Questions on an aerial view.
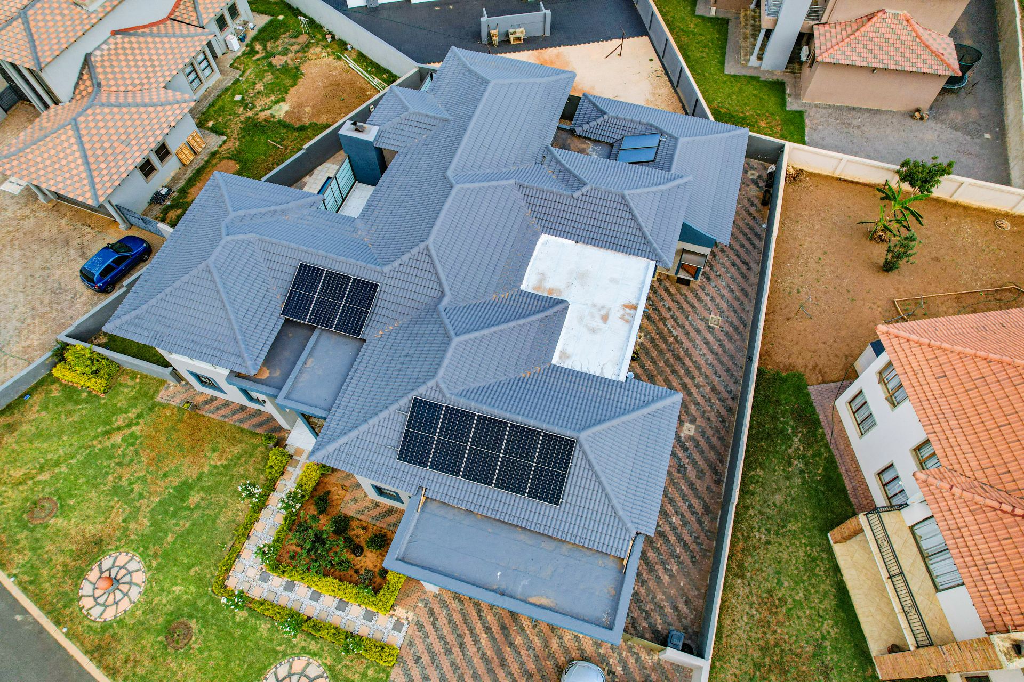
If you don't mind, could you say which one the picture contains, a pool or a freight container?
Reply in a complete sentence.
Of the two, only a pool appears.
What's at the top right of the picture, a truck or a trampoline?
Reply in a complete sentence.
The feature located at the top right of the picture is a trampoline.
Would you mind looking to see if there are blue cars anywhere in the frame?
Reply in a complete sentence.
Yes, there's a blue car down there.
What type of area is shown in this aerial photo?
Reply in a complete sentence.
This looks like a residential area.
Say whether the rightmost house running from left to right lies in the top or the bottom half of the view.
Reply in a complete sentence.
It is in the top half that the rightmost house running from left to right appears.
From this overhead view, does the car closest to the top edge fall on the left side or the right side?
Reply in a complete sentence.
The car closest to the top edge sits on the left side.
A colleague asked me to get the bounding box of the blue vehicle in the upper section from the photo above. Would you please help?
[73,235,151,297]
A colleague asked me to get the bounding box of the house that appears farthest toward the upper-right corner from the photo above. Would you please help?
[703,0,968,110]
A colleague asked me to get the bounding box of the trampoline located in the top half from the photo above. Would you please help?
[938,36,990,99]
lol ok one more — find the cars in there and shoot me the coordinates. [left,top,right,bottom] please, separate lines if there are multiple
[559,663,608,682]
[73,235,151,297]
